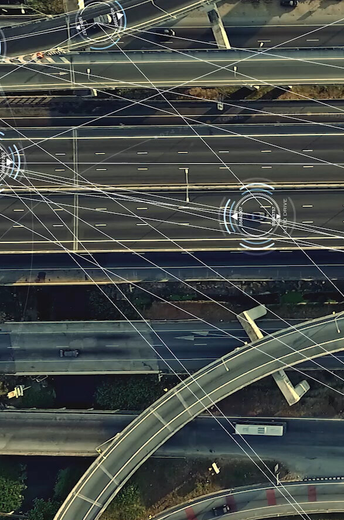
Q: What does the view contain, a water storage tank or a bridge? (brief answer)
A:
bridge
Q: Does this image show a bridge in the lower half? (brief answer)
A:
Yes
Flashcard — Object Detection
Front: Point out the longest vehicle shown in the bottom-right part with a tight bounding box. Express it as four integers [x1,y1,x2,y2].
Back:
[232,423,286,438]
